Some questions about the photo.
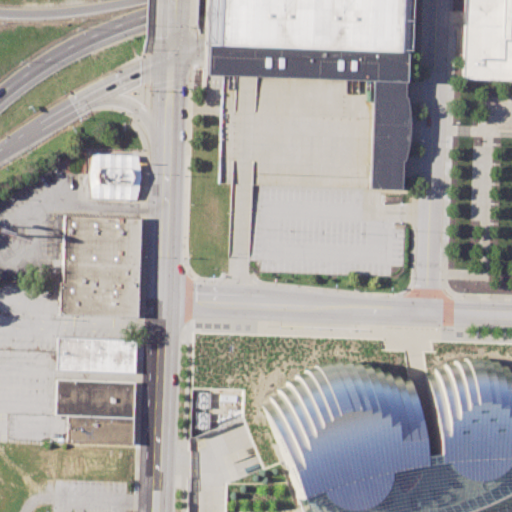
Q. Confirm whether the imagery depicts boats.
No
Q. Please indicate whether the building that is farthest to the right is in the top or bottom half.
top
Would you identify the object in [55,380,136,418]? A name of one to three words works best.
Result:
building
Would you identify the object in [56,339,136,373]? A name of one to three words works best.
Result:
building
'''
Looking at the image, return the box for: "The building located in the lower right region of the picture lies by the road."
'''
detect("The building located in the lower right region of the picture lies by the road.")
[264,358,512,512]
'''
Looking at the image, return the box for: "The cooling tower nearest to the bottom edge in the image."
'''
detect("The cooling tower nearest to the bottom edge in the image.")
[196,412,210,430]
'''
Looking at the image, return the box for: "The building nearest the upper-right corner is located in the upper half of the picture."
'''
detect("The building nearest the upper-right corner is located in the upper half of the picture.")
[462,0,512,82]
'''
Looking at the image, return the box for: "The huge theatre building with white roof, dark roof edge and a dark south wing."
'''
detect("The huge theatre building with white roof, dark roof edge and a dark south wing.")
[202,0,415,190]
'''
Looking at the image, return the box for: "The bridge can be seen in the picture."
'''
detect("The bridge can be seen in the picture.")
[144,0,200,57]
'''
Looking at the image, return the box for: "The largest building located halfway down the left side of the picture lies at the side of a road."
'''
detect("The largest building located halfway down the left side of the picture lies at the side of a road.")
[61,216,141,318]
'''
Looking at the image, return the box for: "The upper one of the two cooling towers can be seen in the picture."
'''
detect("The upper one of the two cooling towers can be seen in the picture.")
[196,392,210,409]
